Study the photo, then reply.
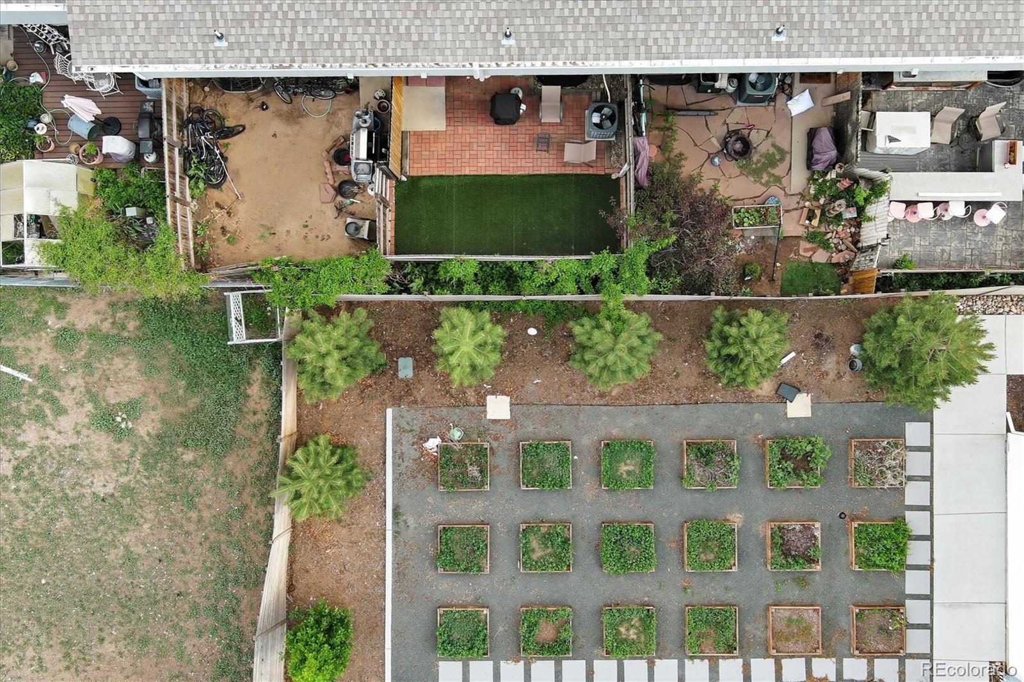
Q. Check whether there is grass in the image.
Yes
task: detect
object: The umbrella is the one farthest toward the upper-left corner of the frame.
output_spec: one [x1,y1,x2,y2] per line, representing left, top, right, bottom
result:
[58,94,120,134]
